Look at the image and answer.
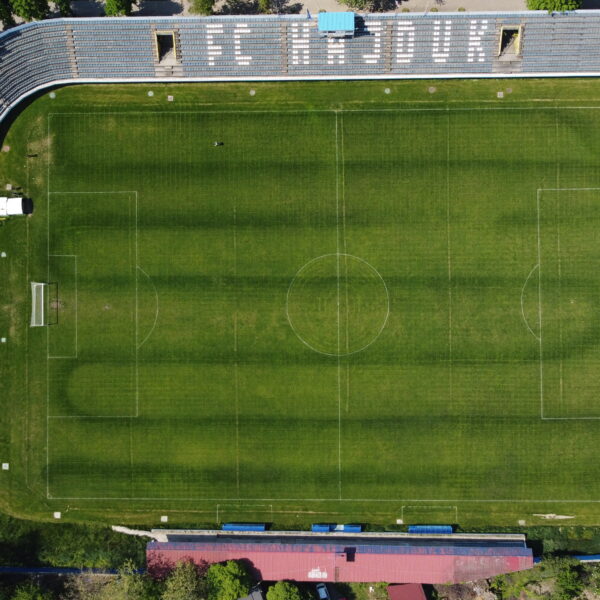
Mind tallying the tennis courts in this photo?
zero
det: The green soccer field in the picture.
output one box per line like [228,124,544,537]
[40,103,600,521]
